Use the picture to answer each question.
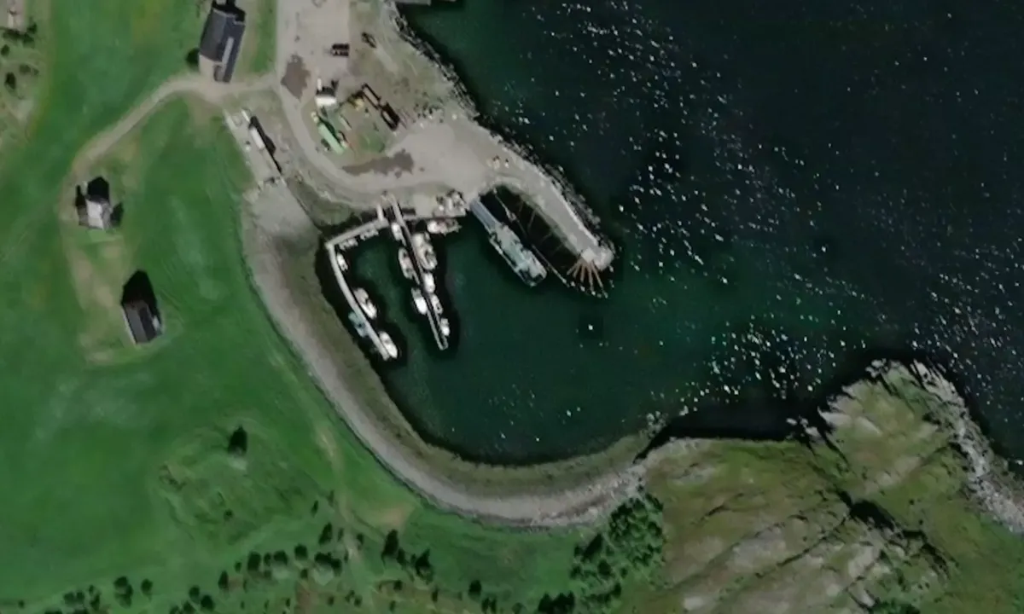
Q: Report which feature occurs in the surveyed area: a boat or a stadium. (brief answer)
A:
boat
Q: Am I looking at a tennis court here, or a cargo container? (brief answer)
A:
cargo container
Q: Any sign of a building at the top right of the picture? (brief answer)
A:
No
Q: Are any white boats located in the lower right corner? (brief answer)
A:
No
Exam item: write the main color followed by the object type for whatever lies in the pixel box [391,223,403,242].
white boat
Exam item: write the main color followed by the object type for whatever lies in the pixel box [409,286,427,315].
white boat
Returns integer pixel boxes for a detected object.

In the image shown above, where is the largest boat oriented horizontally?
[427,220,459,233]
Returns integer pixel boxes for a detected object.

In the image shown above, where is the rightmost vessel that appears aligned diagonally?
[489,220,543,283]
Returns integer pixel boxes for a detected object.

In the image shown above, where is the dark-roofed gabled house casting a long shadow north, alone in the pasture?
[123,295,163,345]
